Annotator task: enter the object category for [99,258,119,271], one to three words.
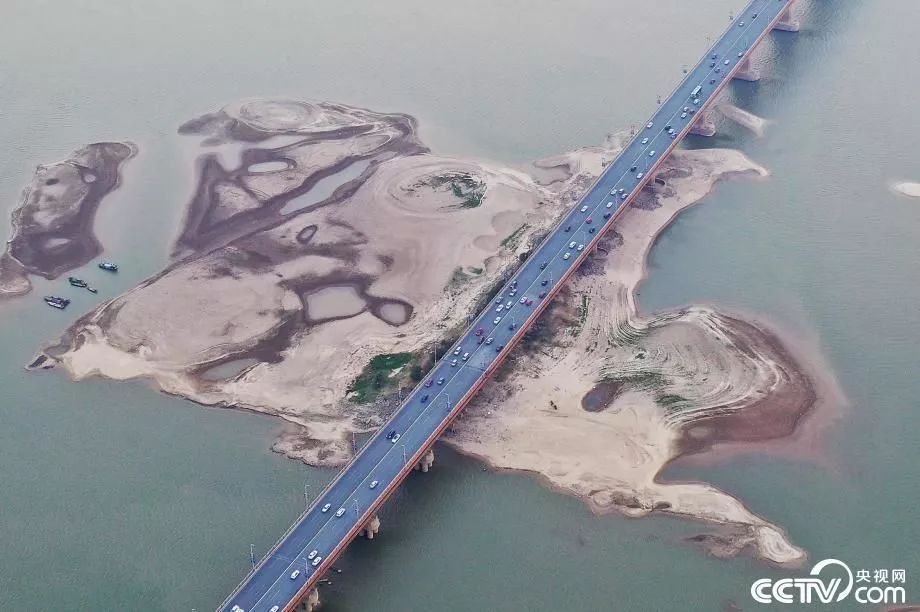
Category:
boat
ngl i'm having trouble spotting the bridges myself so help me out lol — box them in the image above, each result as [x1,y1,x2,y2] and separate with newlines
[215,0,799,612]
